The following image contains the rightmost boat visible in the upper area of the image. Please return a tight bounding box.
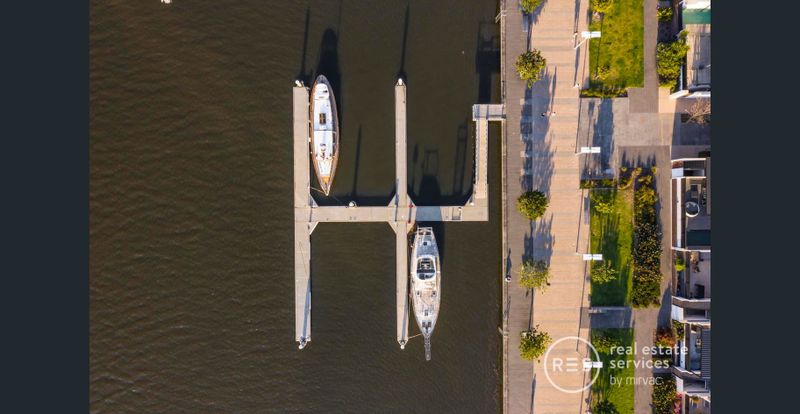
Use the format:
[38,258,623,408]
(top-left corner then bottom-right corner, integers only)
[309,74,339,205]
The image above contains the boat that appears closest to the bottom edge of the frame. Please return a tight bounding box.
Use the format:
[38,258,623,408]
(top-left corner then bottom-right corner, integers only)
[405,224,441,362]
